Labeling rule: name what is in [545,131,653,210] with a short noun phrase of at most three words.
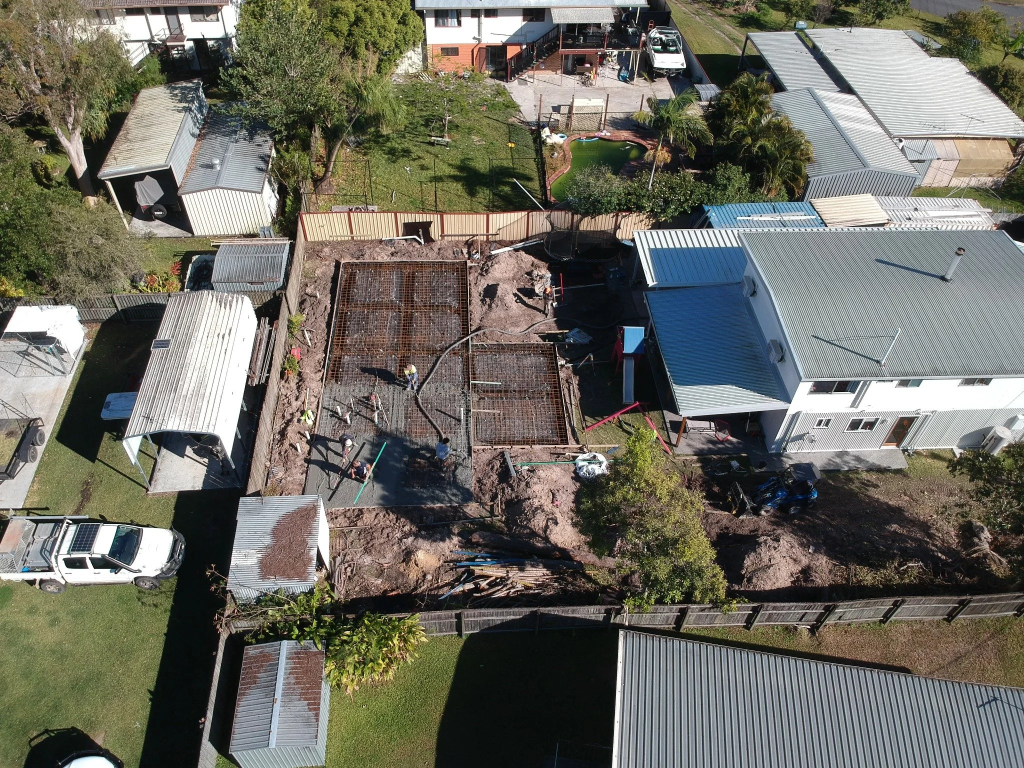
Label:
swimming pool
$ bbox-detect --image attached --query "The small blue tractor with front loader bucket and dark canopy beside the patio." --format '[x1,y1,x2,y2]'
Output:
[719,459,836,516]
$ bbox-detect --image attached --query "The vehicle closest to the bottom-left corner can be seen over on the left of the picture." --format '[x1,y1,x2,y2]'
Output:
[57,732,128,768]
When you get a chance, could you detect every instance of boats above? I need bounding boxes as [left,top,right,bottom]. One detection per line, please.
[650,22,683,75]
